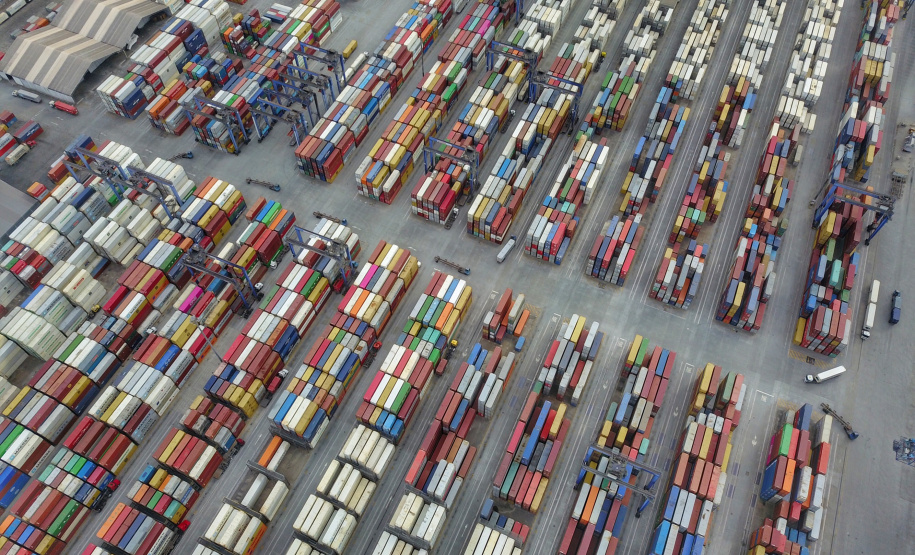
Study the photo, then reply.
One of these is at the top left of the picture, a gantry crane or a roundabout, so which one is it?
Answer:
gantry crane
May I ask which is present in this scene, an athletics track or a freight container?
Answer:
freight container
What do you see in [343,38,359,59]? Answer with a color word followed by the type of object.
yellow vehicle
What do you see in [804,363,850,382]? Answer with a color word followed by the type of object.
white vehicle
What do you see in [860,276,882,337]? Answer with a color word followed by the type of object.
white truck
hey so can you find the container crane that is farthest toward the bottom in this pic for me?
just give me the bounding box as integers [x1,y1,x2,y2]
[572,441,659,521]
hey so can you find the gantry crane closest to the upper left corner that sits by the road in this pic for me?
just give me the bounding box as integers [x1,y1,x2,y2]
[58,145,131,205]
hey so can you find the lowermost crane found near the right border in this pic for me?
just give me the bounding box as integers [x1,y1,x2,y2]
[810,178,889,244]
